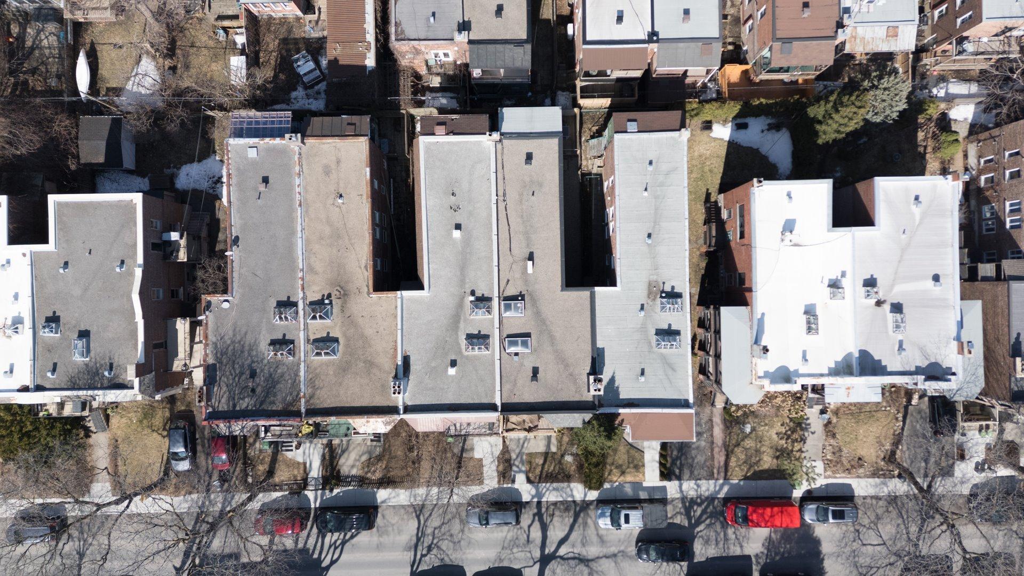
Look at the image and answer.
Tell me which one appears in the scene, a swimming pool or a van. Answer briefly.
van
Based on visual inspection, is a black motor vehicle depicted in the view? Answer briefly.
Yes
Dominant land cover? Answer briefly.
buildings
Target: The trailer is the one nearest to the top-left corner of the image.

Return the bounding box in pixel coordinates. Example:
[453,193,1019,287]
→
[287,45,325,91]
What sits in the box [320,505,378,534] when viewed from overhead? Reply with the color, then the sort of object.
black car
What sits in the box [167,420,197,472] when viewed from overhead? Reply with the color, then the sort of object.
black car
